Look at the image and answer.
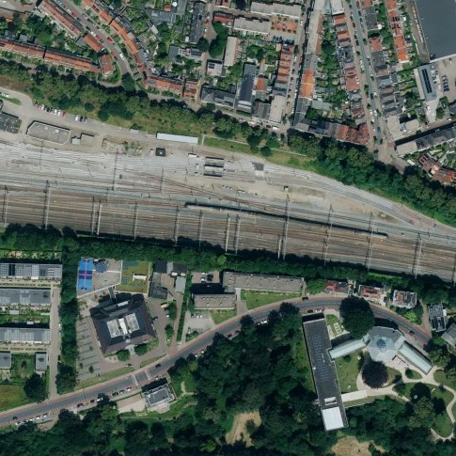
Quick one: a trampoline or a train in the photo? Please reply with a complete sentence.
Of the two, only a train appears.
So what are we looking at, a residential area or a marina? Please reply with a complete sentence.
The area seen from above is a residential area.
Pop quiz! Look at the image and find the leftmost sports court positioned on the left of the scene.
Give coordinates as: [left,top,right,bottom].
[75,257,94,294]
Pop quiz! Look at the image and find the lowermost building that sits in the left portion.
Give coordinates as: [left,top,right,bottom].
[145,385,176,413]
